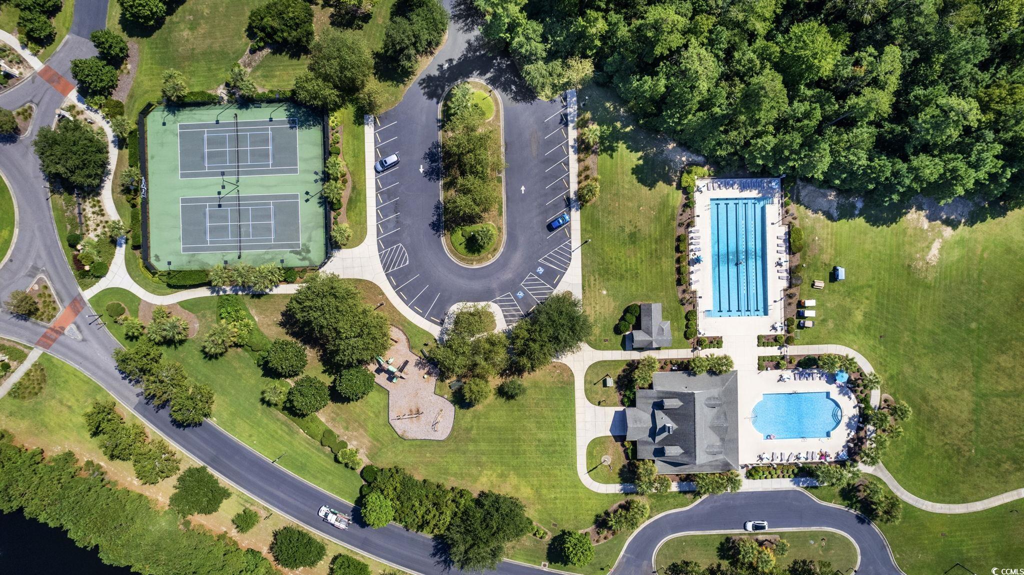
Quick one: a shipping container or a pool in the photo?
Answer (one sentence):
Looking from above, you can make out a pool.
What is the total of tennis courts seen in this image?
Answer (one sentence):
There are 2 tennis courts in the image.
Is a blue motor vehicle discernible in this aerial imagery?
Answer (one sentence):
Yes, the photo shows a blue motor vehicle.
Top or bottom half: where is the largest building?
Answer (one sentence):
The largest building is in the bottom half of the image.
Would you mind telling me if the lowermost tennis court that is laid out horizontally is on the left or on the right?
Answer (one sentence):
The lowermost tennis court that is laid out horizontally is on the left side of the image.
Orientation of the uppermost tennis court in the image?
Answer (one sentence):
In this picture, the uppermost tennis court lies from side to side.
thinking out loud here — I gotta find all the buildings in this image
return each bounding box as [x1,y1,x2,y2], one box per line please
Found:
[625,304,672,348]
[624,371,738,474]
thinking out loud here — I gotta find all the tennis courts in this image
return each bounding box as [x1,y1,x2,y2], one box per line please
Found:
[178,118,299,179]
[180,193,301,253]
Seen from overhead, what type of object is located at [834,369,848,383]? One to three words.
umbrella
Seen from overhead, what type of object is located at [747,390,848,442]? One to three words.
swimming pool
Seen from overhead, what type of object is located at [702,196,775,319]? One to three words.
swimming pool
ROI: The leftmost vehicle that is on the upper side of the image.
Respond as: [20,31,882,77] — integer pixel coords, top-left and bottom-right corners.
[374,154,399,172]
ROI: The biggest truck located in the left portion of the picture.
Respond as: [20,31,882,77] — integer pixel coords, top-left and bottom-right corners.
[319,506,352,532]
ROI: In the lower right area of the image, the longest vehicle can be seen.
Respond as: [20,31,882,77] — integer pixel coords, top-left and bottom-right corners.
[743,520,768,532]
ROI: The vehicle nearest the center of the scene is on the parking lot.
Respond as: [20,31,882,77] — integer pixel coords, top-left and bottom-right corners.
[546,214,570,232]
